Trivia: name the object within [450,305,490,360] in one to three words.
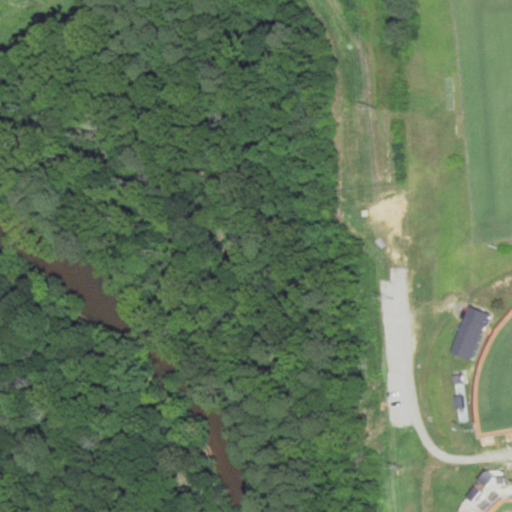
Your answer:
building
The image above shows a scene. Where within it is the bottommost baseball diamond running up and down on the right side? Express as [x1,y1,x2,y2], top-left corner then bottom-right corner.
[473,308,512,438]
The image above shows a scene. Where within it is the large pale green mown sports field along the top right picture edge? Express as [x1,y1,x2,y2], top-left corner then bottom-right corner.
[453,0,512,243]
